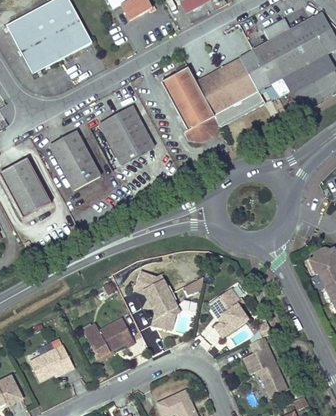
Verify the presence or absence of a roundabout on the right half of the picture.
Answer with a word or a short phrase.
Yes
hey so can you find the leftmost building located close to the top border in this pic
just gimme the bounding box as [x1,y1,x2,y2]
[5,0,91,74]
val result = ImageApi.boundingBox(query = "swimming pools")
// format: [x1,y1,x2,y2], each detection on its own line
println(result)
[175,316,192,335]
[246,392,258,410]
[230,330,250,346]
